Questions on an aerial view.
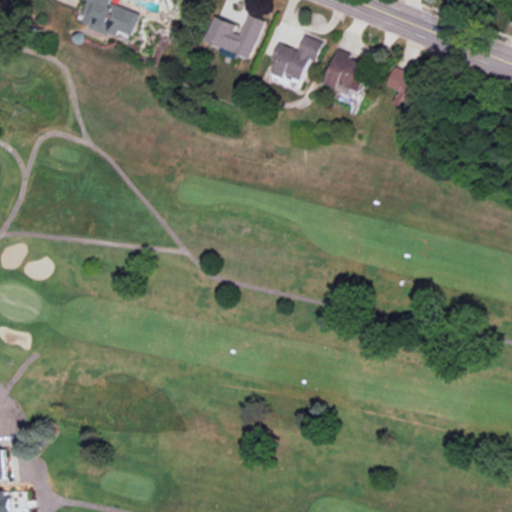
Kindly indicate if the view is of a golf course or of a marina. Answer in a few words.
golf course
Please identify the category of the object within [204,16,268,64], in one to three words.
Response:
house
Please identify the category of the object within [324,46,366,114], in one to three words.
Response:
house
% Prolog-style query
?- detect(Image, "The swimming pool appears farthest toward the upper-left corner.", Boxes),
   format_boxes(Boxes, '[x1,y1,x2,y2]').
[71,32,84,46]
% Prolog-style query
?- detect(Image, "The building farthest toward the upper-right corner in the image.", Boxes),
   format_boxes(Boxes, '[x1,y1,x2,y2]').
[386,66,408,108]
